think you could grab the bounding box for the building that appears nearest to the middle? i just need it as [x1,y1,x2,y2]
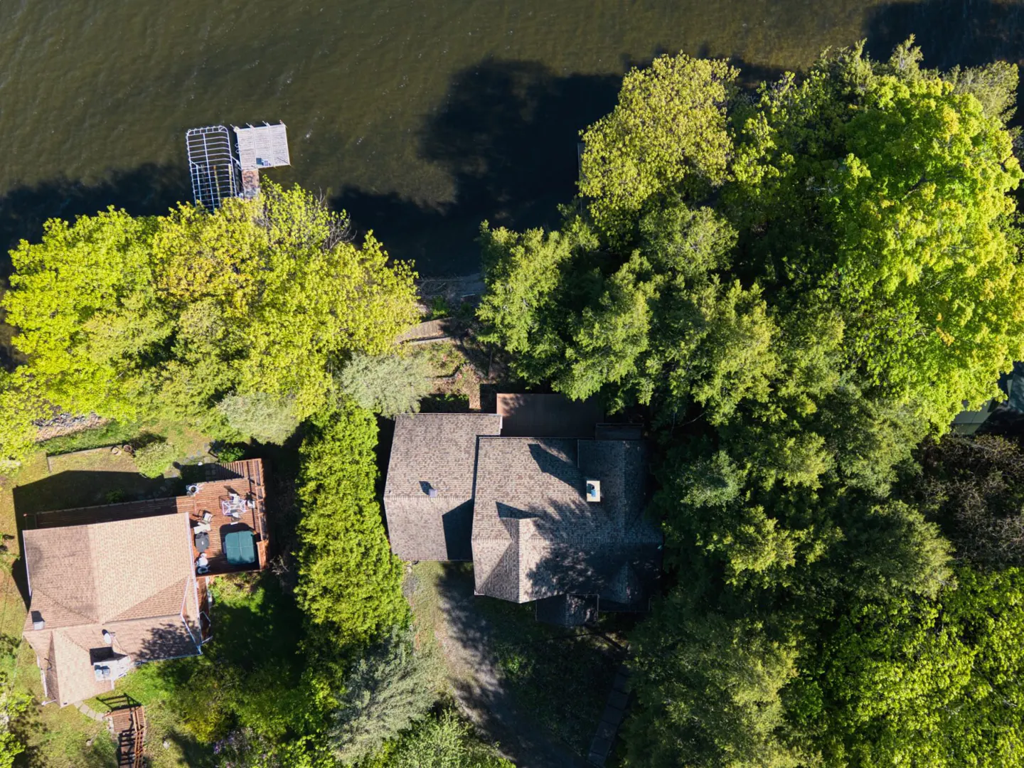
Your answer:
[387,393,663,631]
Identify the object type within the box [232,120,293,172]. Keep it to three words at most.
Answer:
pier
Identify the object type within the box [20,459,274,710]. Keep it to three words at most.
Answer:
house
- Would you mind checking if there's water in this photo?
Yes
